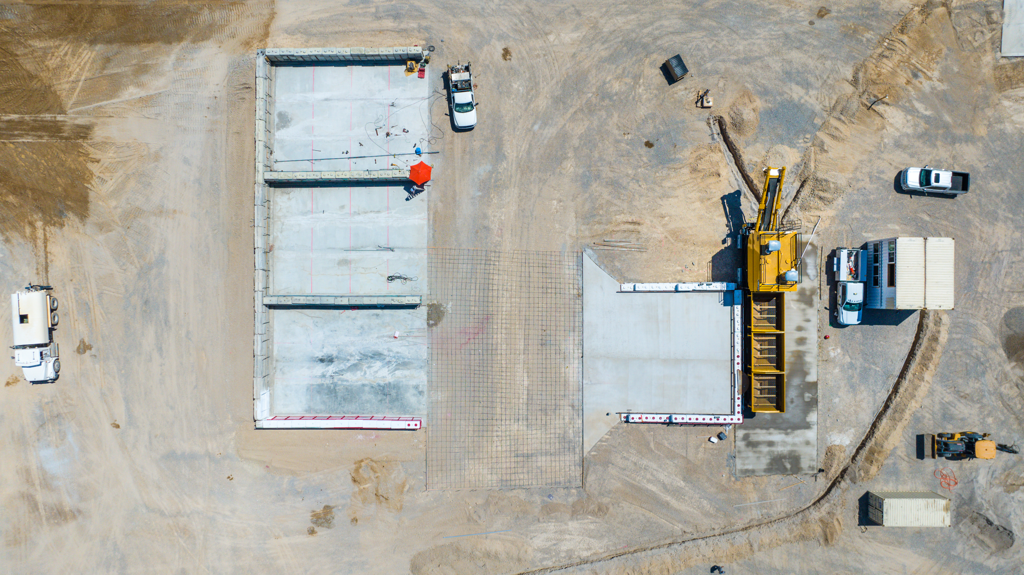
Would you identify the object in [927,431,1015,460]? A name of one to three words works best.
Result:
work vehicle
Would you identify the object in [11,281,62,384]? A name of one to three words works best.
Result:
truck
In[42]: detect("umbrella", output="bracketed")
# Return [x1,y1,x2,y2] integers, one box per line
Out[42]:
[409,161,432,185]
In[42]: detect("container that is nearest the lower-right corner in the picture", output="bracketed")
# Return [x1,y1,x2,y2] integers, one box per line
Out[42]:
[868,490,951,527]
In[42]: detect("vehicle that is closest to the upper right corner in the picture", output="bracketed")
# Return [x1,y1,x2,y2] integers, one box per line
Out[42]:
[897,162,972,194]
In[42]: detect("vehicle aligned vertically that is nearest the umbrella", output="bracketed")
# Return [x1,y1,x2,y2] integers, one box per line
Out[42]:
[448,56,479,130]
